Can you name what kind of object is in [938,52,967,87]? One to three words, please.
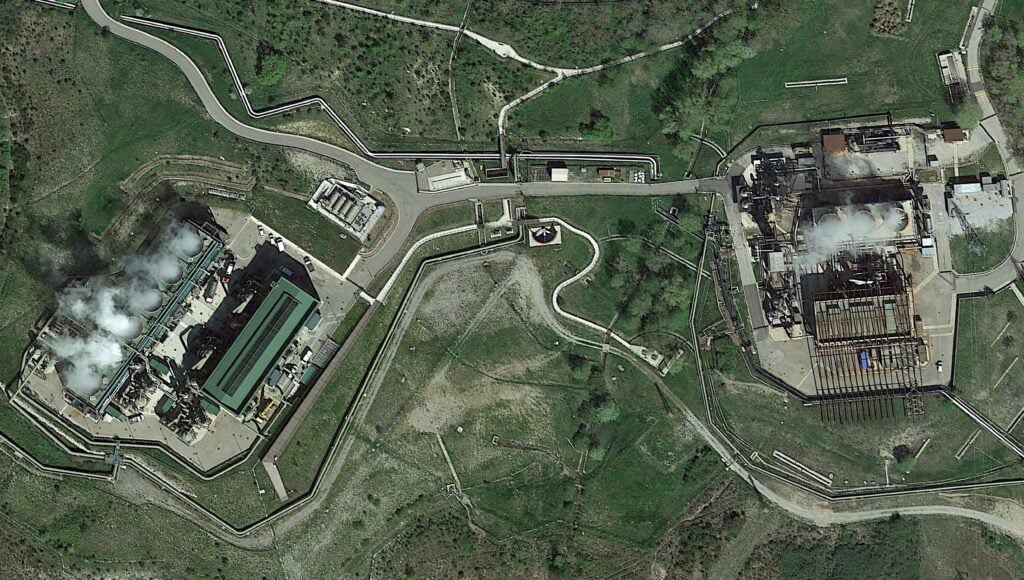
house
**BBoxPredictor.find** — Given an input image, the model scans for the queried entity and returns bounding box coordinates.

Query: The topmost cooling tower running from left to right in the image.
[811,199,917,247]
